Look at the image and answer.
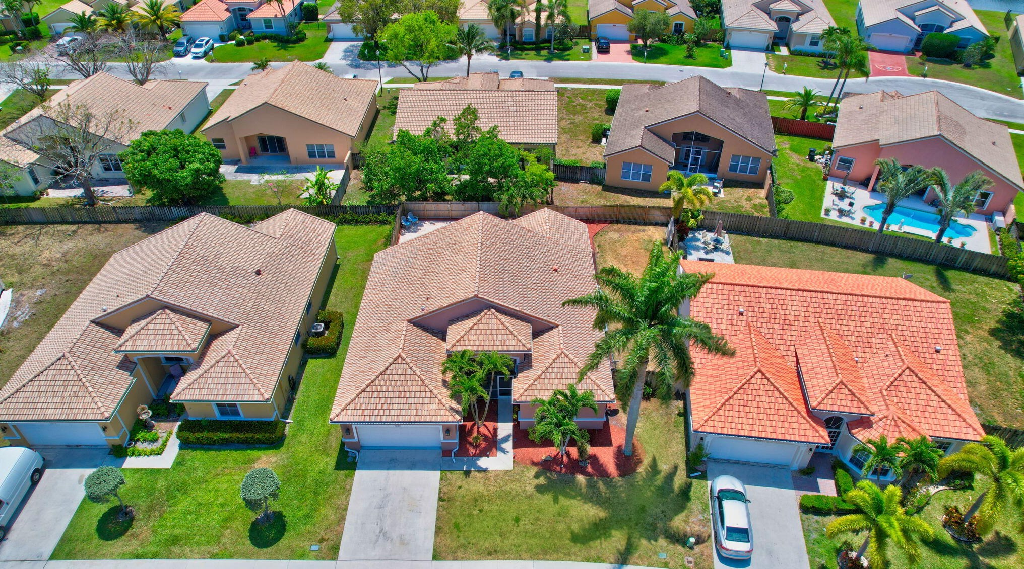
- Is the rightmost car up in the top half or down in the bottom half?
bottom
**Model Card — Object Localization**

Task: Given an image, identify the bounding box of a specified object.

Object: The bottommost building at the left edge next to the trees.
[0,206,339,446]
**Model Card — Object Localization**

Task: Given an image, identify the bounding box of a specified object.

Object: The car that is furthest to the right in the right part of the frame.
[713,479,753,557]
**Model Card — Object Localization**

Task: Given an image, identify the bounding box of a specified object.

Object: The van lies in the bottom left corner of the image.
[0,448,41,538]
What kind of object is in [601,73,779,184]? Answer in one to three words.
house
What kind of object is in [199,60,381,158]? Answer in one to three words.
house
